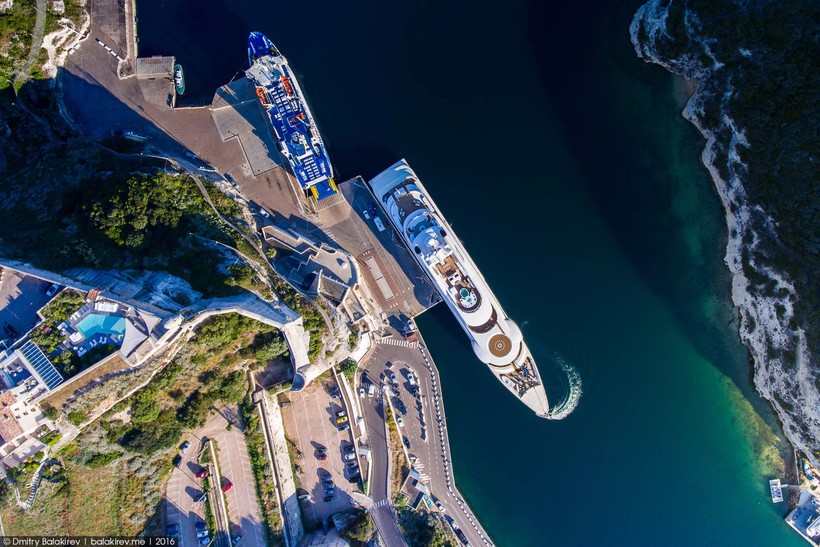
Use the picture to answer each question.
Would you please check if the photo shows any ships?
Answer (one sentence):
Yes, the picture does show a ship.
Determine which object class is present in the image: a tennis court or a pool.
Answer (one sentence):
The one in the frame is a pool.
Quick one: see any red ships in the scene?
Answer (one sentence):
No, I can see no red ship in this picture.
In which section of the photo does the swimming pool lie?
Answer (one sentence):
The swimming pool is located in the left region of the scene.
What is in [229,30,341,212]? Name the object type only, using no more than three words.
ship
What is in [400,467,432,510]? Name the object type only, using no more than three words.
building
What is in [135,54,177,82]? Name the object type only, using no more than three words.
shed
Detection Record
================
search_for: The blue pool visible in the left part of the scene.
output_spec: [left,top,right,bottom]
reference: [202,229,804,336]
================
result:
[76,312,126,341]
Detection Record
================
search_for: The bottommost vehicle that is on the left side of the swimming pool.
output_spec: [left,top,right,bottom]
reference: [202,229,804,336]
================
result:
[5,324,18,337]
